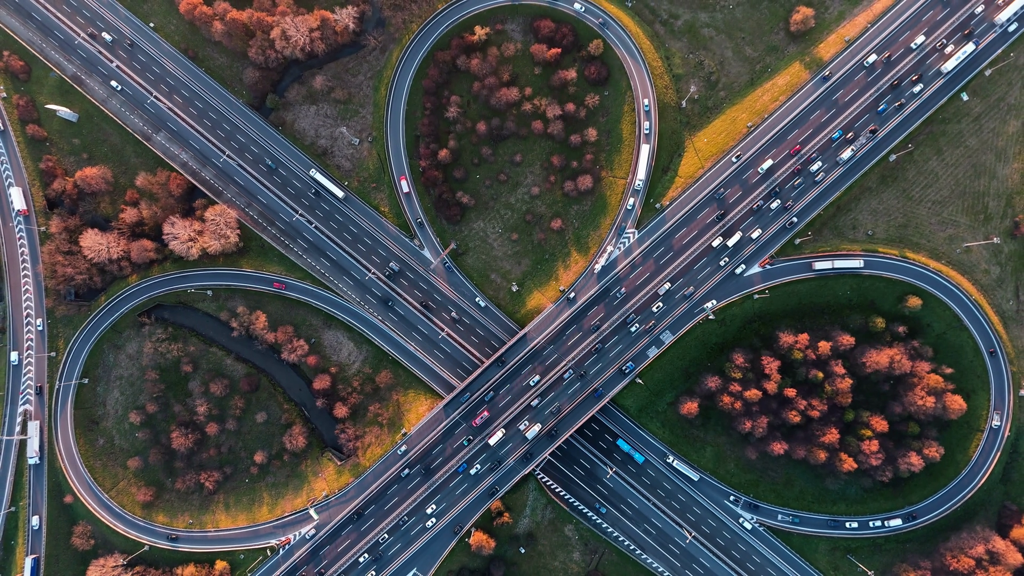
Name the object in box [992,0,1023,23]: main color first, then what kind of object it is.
white truck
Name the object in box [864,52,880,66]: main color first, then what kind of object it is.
white vehicle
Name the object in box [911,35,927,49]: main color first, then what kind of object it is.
white vehicle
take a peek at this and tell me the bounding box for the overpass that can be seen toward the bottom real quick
[437,324,615,480]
